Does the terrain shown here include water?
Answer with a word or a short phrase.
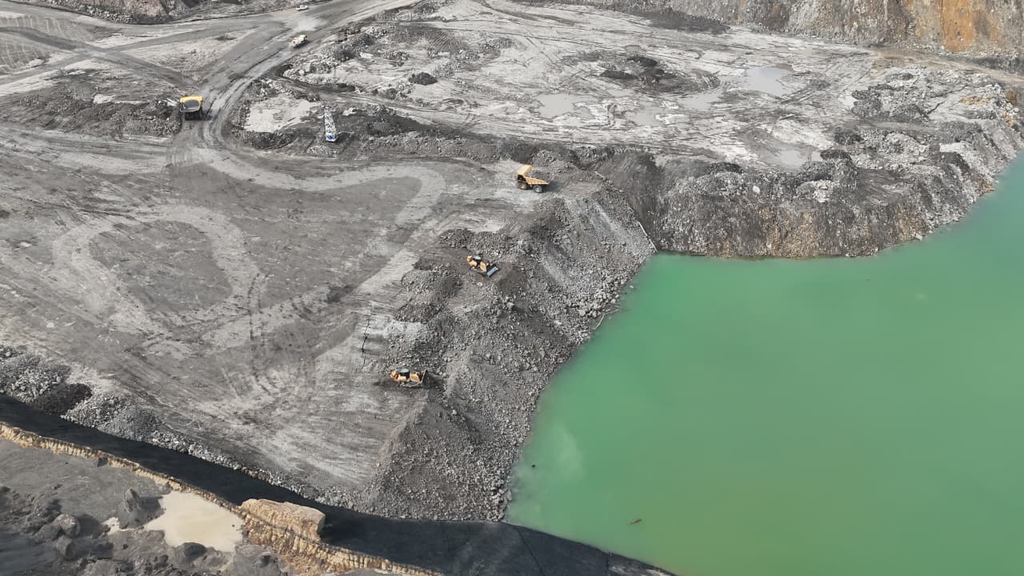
Yes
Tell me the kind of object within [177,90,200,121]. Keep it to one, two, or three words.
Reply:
truck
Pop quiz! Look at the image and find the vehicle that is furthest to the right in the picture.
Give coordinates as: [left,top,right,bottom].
[515,163,553,193]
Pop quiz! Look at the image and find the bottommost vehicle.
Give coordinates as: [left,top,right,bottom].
[392,367,432,391]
